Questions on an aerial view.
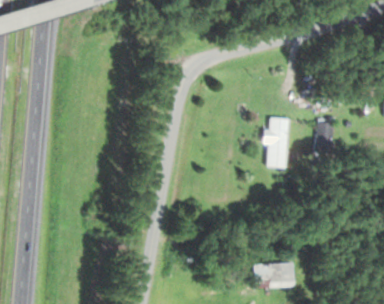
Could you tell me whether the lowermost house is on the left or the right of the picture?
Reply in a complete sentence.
You can find the lowermost house on the right side of the picture.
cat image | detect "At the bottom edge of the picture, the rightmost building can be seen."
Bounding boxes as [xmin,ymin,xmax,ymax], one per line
[252,262,296,294]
